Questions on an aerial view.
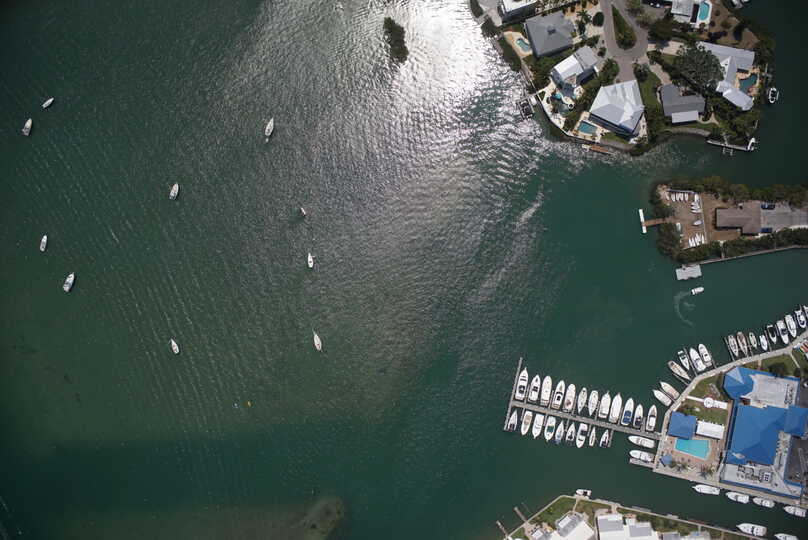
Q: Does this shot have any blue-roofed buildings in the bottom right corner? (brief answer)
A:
Yes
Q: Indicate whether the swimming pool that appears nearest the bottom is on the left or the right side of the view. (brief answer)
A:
right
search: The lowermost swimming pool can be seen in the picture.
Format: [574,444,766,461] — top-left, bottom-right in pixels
[675,437,711,460]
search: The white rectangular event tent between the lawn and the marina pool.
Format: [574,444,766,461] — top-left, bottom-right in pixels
[695,420,725,439]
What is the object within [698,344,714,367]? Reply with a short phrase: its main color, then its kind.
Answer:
white boat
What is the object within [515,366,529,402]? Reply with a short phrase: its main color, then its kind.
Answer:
white boat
